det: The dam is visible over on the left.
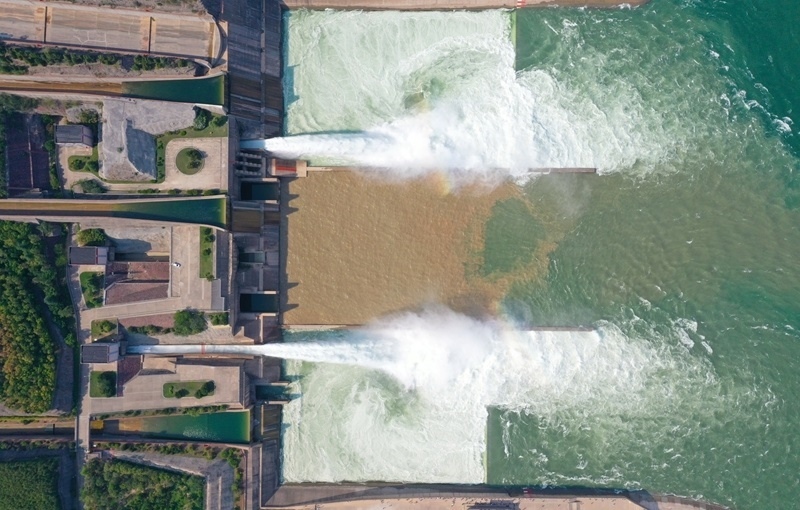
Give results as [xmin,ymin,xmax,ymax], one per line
[206,0,283,510]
